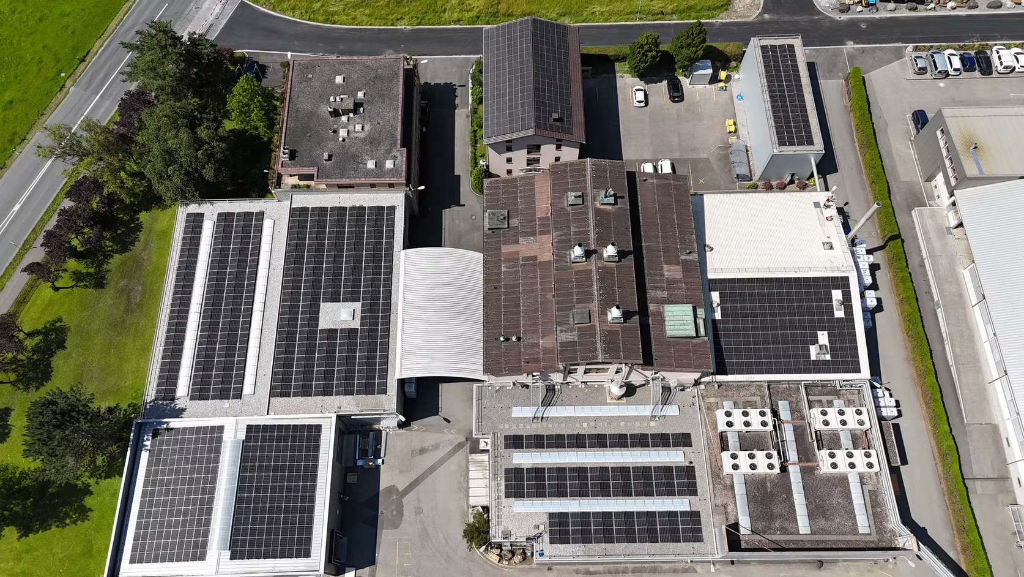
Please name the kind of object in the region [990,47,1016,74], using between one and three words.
car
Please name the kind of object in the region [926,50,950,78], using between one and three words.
car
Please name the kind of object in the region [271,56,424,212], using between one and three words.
building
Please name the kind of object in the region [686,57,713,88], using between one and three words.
shed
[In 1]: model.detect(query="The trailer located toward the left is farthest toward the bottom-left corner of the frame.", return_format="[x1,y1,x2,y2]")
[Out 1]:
[355,431,386,468]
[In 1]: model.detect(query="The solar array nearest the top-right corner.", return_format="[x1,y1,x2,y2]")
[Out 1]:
[761,43,814,146]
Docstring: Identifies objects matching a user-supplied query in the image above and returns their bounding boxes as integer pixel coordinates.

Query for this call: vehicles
[1010,50,1024,74]
[971,51,993,77]
[666,76,683,104]
[908,53,928,76]
[657,157,673,173]
[926,50,950,78]
[858,0,871,6]
[640,161,655,173]
[245,59,259,82]
[908,109,929,135]
[632,85,646,109]
[990,47,1016,74]
[957,52,977,75]
[941,50,962,77]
